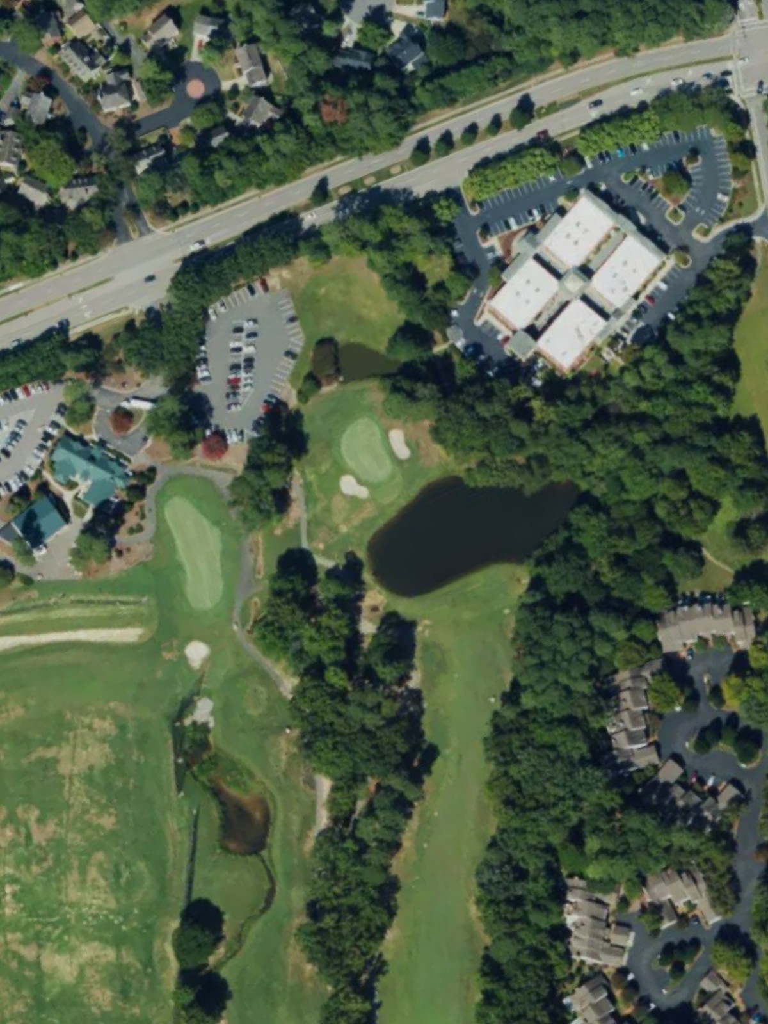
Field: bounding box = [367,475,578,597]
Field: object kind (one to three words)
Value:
pond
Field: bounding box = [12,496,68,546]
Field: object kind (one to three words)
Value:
building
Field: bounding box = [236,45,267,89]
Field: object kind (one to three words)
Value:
house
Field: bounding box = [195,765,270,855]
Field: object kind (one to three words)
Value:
pond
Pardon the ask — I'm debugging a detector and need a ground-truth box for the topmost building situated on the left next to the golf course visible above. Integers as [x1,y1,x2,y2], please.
[50,434,132,506]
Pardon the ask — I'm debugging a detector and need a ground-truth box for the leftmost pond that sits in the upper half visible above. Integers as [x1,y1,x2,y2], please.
[335,342,413,383]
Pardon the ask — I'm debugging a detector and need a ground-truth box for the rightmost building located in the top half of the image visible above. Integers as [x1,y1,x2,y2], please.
[490,191,667,371]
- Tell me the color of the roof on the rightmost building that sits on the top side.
white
